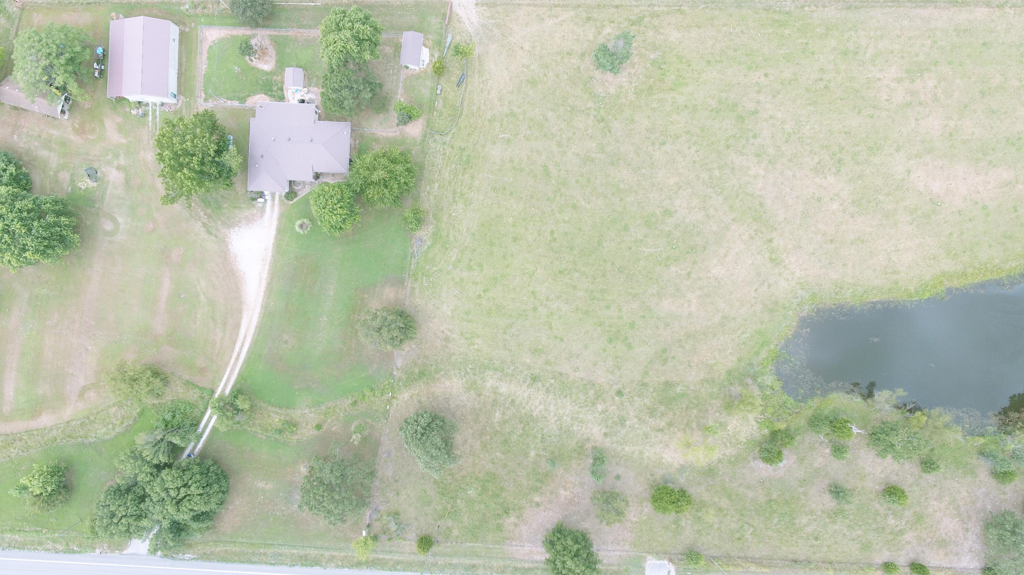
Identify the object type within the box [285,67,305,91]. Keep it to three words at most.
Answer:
shed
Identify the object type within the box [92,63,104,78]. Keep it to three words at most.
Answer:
vehicle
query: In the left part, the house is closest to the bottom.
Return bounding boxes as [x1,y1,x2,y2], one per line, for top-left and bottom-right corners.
[248,101,352,192]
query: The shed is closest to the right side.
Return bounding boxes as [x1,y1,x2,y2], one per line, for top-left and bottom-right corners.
[399,30,424,70]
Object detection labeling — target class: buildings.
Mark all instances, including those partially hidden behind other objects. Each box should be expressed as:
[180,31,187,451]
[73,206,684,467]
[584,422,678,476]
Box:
[399,30,424,70]
[285,67,305,91]
[107,15,178,102]
[248,101,352,192]
[0,73,71,119]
